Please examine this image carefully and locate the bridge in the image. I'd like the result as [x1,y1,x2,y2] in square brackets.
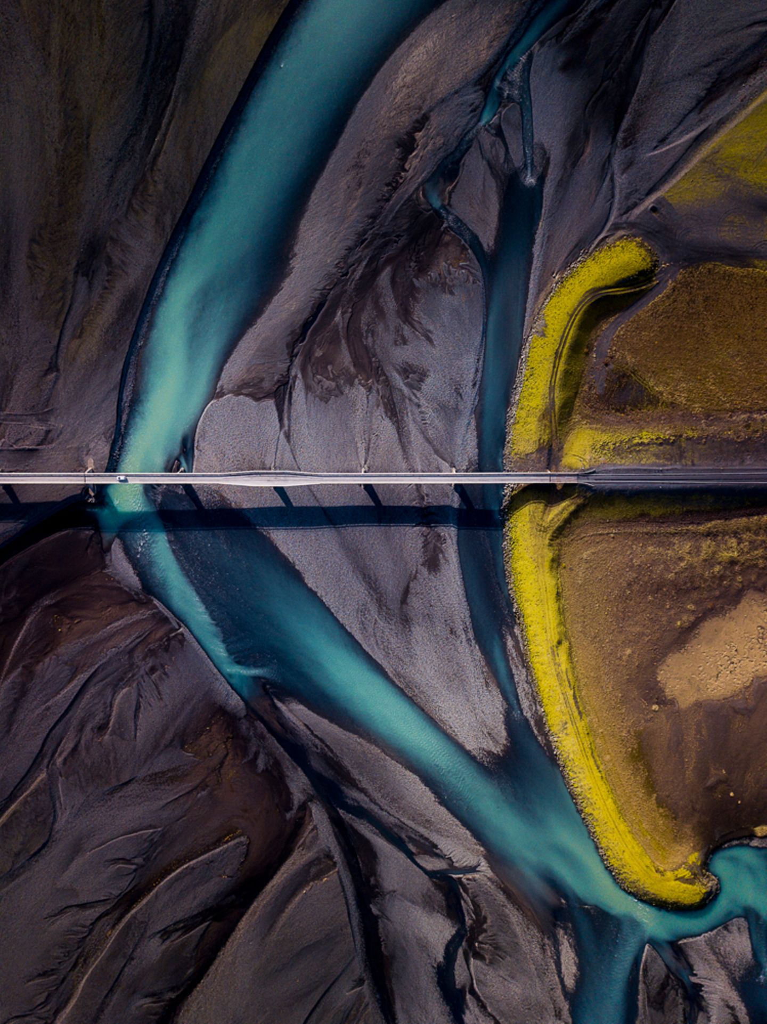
[0,469,593,493]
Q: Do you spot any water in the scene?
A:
Yes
